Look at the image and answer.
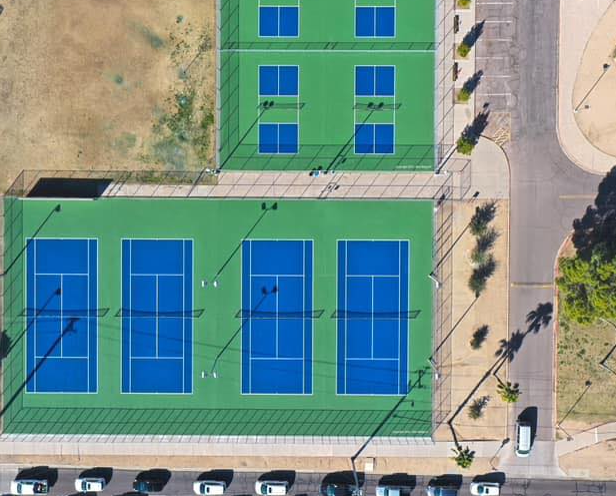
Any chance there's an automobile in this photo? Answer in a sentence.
Yes, an automobile can be made out from above.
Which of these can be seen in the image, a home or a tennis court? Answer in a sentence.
There is a tennis court in the scene.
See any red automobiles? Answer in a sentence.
No, the scene contains no red automobile.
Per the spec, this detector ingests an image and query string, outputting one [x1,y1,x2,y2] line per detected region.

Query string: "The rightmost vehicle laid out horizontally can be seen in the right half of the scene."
[469,480,502,496]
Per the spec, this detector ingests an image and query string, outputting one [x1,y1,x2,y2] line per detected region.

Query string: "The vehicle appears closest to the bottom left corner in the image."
[11,476,49,493]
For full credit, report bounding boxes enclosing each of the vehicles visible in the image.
[194,478,225,495]
[375,482,414,496]
[134,476,165,492]
[513,416,532,453]
[11,476,49,493]
[426,481,458,496]
[469,480,502,496]
[257,478,288,496]
[76,475,107,492]
[322,481,353,496]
